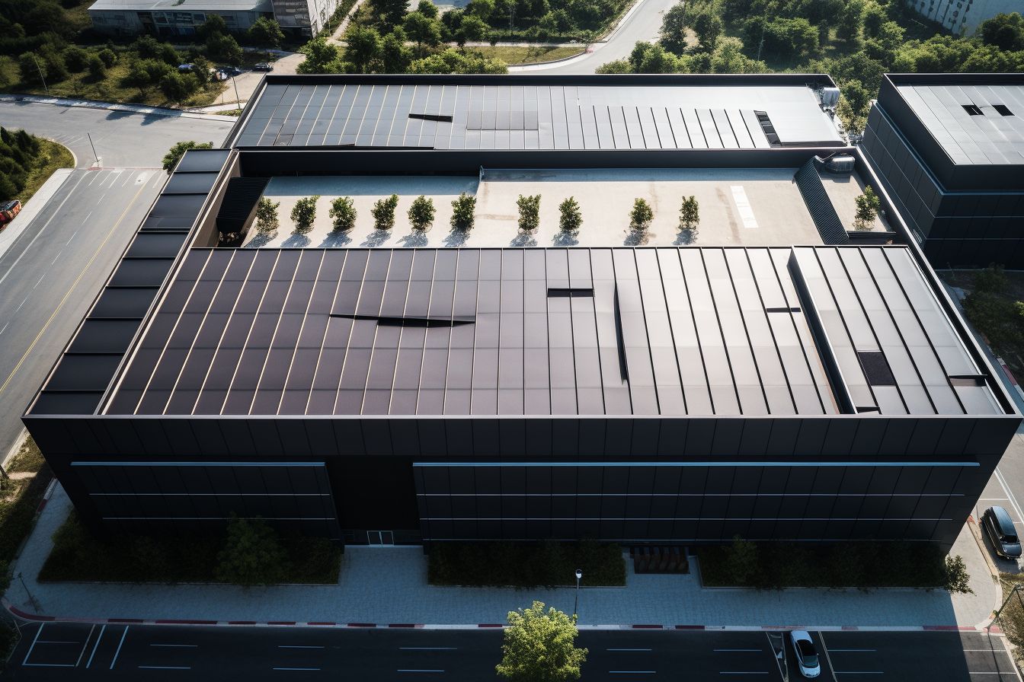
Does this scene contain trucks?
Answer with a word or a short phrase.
No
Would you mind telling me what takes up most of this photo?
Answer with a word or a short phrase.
buildings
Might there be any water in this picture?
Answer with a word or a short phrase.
No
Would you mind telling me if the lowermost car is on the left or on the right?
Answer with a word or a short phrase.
right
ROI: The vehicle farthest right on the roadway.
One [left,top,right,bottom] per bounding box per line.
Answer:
[974,510,1021,563]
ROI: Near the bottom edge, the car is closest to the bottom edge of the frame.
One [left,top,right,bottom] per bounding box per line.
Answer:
[786,631,822,681]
